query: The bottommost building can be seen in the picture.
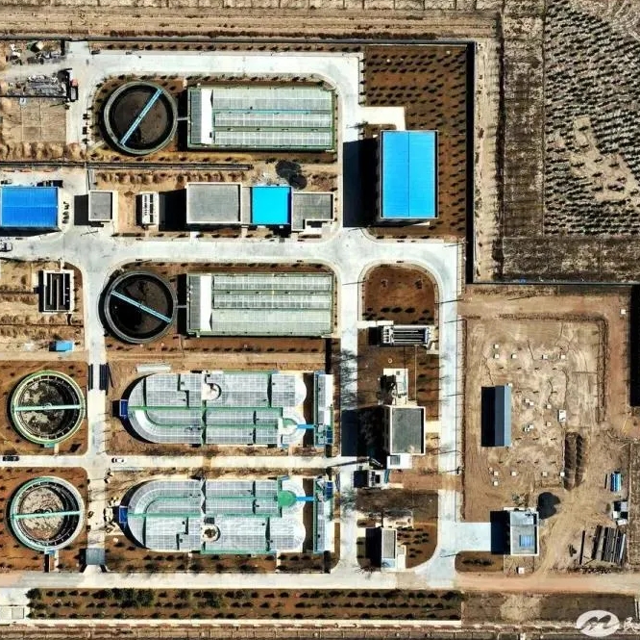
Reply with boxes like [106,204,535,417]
[0,602,25,619]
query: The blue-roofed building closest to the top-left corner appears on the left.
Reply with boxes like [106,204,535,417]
[0,187,61,230]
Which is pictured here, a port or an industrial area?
industrial area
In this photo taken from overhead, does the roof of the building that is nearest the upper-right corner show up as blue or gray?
blue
